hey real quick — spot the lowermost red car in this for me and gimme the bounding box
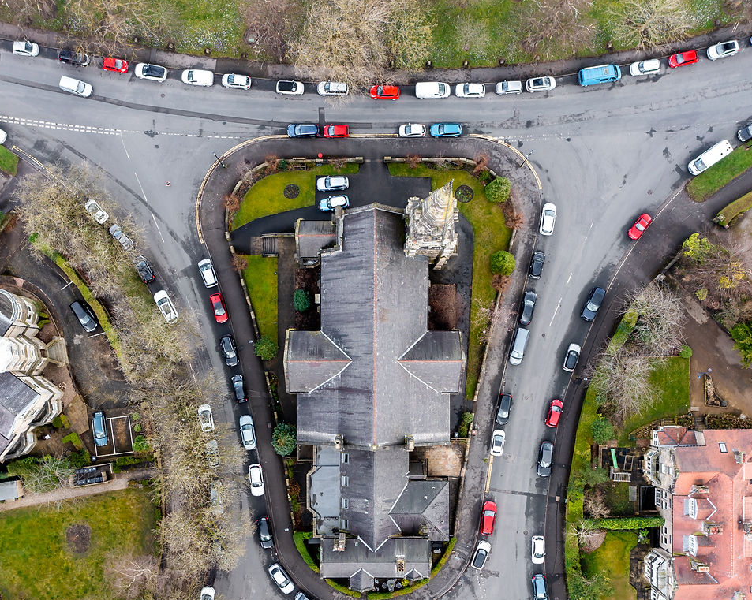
[479,500,496,535]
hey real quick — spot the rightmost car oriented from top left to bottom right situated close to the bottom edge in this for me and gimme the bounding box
[266,560,297,593]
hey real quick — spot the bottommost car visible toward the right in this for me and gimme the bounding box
[531,573,547,600]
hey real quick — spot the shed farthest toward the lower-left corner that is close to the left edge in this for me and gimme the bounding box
[0,478,29,500]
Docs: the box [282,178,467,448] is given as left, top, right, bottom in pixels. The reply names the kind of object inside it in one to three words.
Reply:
church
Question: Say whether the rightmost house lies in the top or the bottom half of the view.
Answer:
bottom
